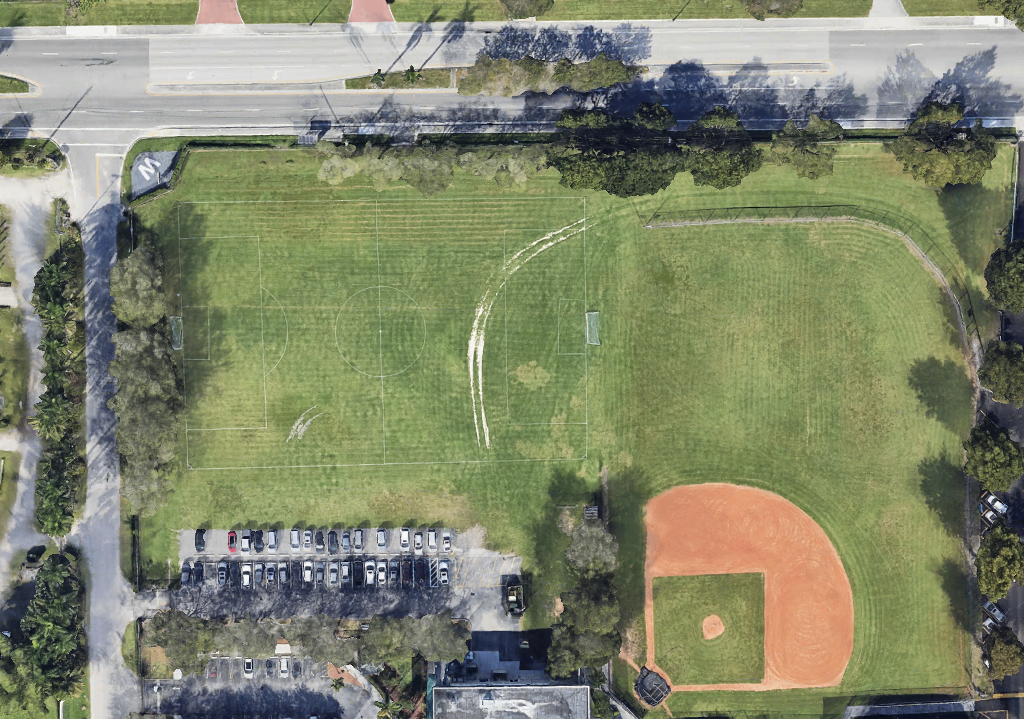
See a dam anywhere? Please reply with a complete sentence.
No, no dam is visible in the scene.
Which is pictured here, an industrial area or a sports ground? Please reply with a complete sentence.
It's a sports ground.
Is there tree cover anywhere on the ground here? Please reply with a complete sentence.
Yes, tree cover can be seen from above here.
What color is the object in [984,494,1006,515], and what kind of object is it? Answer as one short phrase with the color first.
white car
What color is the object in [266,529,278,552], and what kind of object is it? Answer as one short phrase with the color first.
white vehicle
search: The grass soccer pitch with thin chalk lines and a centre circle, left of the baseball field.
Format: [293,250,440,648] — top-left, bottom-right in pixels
[175,195,591,472]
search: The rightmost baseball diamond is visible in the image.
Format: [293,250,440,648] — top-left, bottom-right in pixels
[613,216,979,719]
